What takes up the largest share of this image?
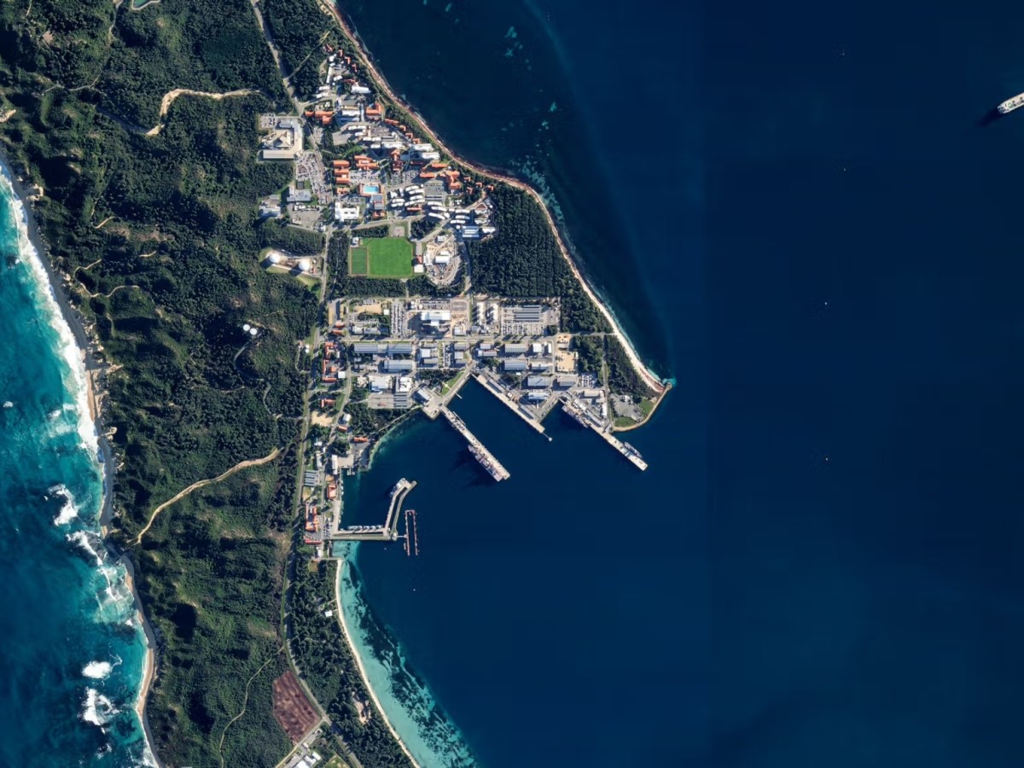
water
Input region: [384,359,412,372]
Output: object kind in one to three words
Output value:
building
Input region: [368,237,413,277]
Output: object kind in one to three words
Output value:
sports field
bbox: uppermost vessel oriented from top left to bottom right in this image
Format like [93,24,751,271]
[562,406,589,428]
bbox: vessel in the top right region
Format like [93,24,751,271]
[1000,93,1024,113]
